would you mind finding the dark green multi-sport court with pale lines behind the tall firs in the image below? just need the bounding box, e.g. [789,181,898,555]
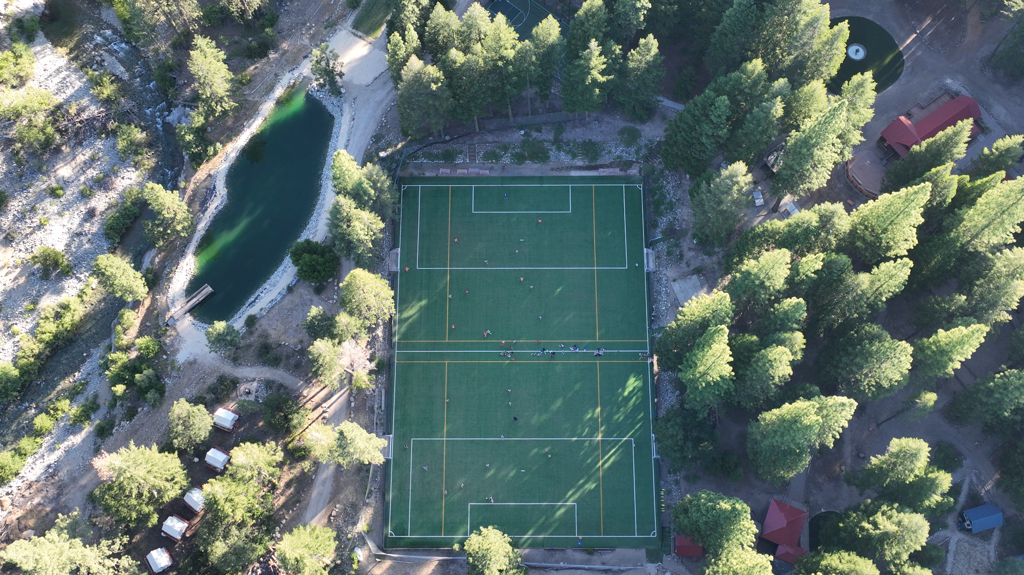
[464,0,619,89]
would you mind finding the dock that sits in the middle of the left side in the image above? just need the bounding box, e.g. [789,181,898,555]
[165,282,213,326]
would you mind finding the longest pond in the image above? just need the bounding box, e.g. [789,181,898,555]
[189,82,331,319]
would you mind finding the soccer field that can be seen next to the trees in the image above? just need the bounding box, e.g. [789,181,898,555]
[384,176,661,549]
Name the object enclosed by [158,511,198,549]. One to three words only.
tent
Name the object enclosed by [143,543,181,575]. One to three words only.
tent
